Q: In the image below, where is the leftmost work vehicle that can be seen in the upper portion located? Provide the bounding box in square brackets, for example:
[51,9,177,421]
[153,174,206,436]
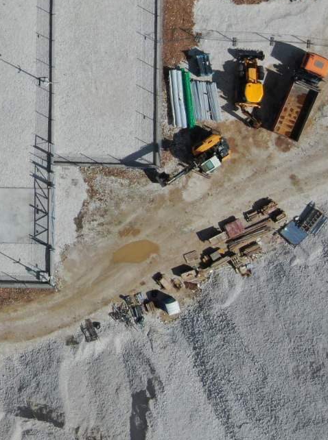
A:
[153,132,229,191]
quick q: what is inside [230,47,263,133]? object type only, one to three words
work vehicle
